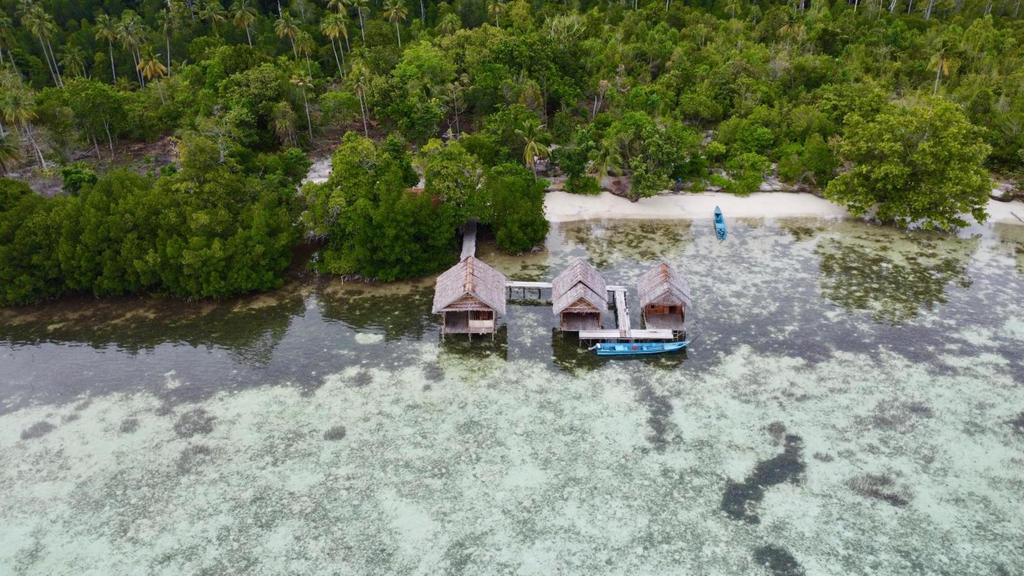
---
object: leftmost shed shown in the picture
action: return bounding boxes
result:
[429,253,508,346]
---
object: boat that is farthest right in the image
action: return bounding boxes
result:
[714,201,728,244]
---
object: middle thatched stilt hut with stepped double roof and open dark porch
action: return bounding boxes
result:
[553,255,612,342]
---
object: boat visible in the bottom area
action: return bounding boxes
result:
[585,341,689,356]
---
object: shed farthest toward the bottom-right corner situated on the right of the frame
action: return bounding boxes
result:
[639,257,697,341]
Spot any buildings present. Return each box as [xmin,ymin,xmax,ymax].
[639,257,697,341]
[553,255,612,342]
[429,253,508,346]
